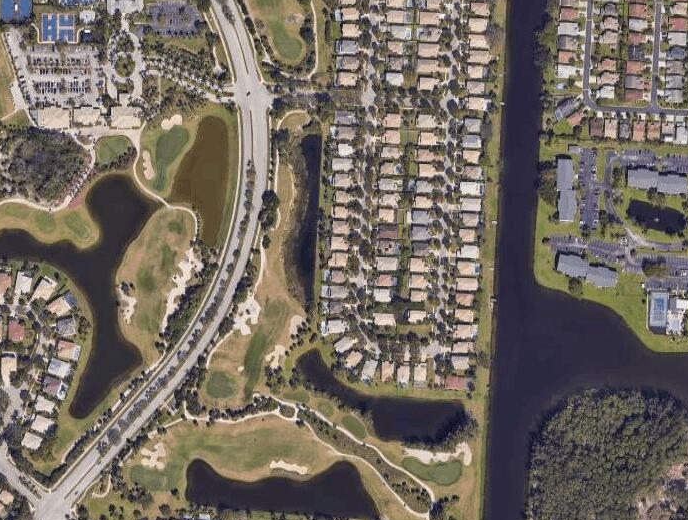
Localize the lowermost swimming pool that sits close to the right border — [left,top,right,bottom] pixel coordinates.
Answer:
[668,309,683,336]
